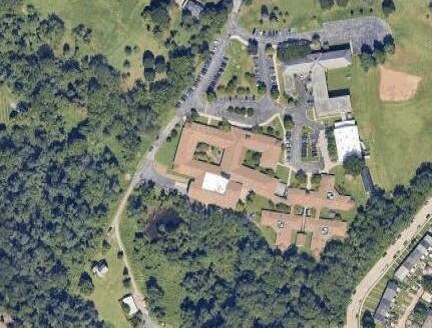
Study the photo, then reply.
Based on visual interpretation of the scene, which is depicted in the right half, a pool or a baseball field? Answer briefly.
baseball field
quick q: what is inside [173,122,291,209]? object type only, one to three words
building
